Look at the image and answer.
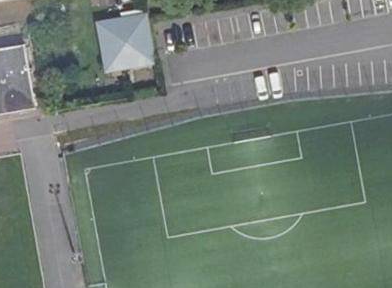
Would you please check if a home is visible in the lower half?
No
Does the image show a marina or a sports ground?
sports ground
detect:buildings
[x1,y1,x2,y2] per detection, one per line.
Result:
[96,10,156,72]
[0,45,36,114]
